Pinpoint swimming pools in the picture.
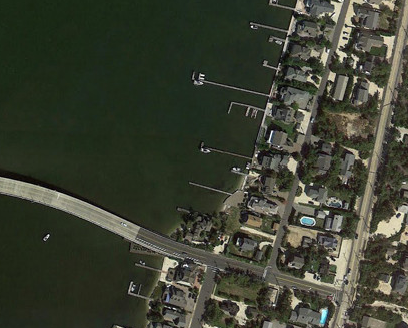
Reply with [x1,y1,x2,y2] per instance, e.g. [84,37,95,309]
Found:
[320,308,328,324]
[325,195,342,208]
[301,216,316,226]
